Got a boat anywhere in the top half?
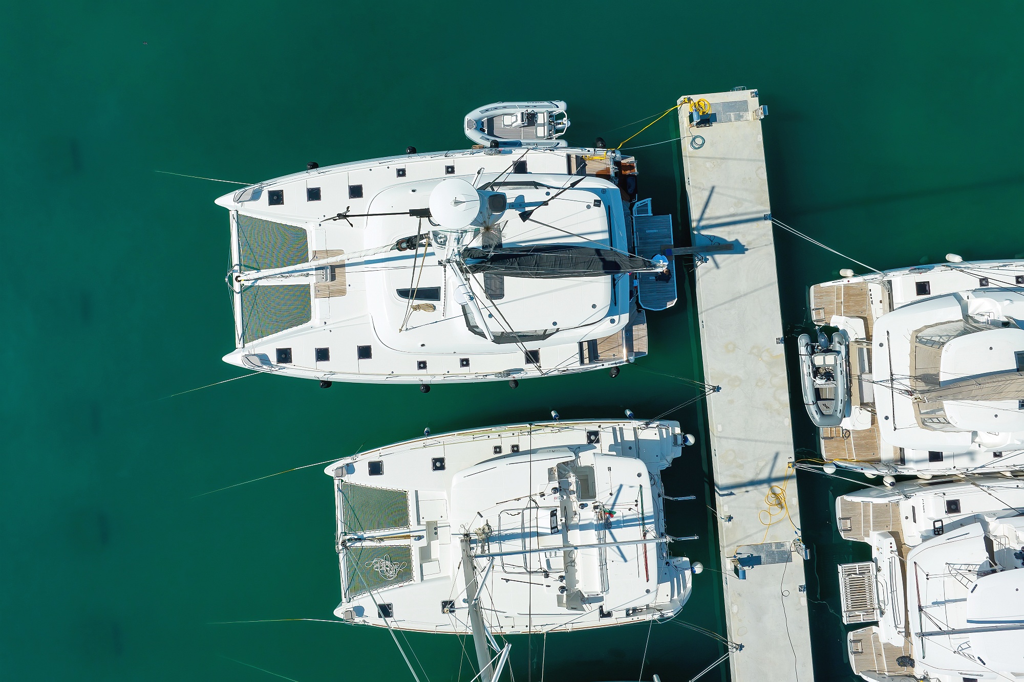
Yes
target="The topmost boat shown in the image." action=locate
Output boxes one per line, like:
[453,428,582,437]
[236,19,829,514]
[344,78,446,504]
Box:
[465,100,570,148]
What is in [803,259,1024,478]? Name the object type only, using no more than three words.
boat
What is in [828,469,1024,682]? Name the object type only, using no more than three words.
boat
